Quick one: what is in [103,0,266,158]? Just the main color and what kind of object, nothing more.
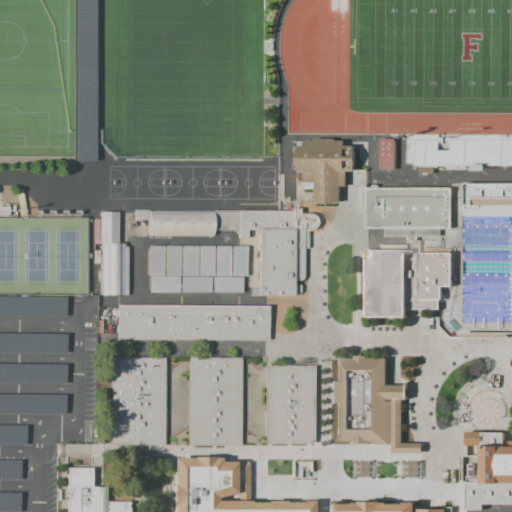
green sports field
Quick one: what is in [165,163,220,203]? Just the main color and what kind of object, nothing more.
gray basketball court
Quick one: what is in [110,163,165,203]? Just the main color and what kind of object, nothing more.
gray basketball court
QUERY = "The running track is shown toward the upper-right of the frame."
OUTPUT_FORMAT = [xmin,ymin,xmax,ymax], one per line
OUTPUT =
[279,0,512,134]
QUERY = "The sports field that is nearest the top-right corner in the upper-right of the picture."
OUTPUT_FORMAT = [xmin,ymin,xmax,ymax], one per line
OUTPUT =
[350,0,512,112]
